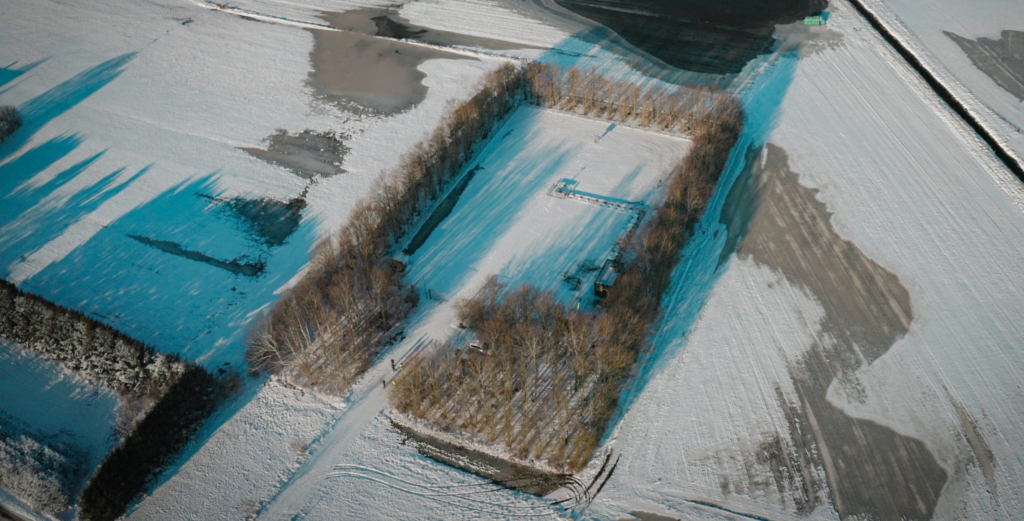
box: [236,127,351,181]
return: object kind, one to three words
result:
pond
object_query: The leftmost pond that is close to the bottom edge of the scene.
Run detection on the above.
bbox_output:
[393,422,571,496]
